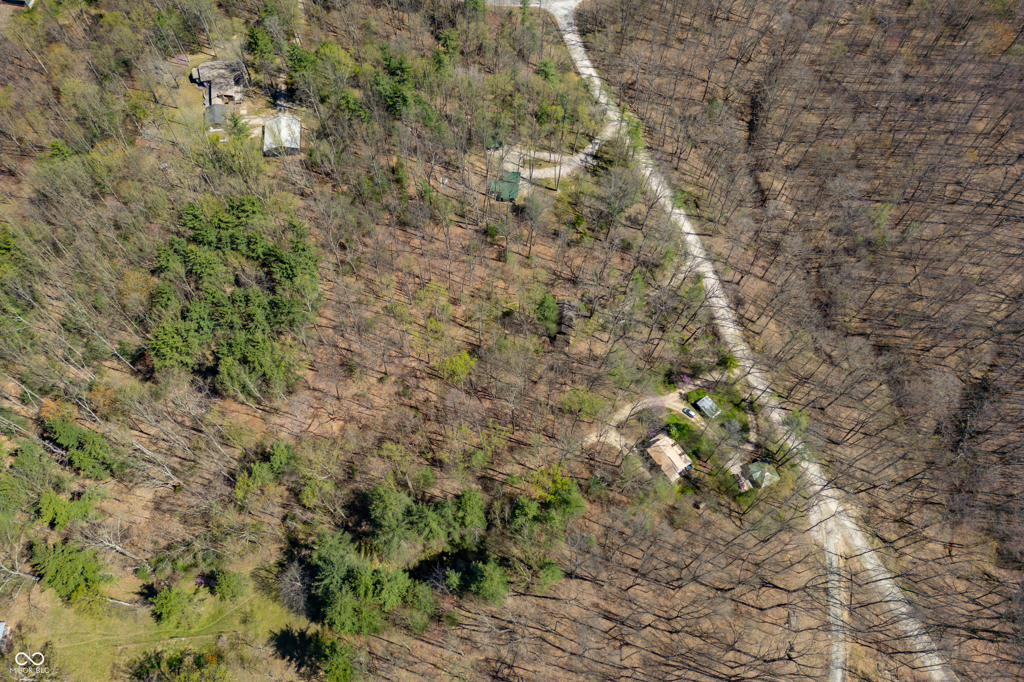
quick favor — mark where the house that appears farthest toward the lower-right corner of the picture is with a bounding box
[746,454,782,490]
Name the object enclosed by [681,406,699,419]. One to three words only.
vehicle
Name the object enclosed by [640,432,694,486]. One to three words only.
house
